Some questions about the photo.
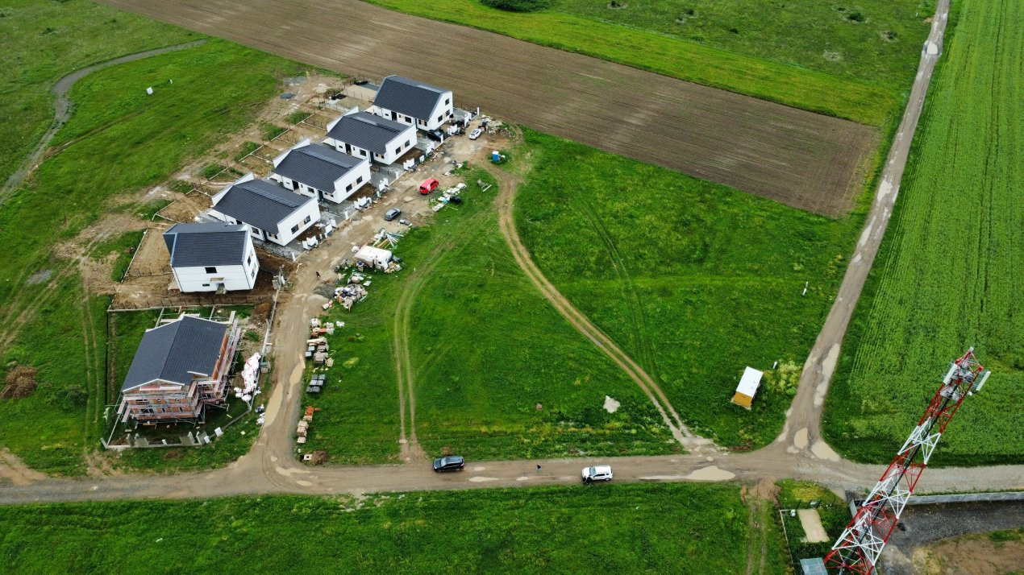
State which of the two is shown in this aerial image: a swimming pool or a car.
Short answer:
car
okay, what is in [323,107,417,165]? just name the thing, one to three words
house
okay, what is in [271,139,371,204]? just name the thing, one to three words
house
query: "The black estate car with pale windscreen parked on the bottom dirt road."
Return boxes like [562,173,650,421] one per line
[432,457,466,473]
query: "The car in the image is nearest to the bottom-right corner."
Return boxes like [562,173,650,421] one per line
[582,467,614,483]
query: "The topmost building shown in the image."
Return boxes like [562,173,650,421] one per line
[368,76,453,130]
